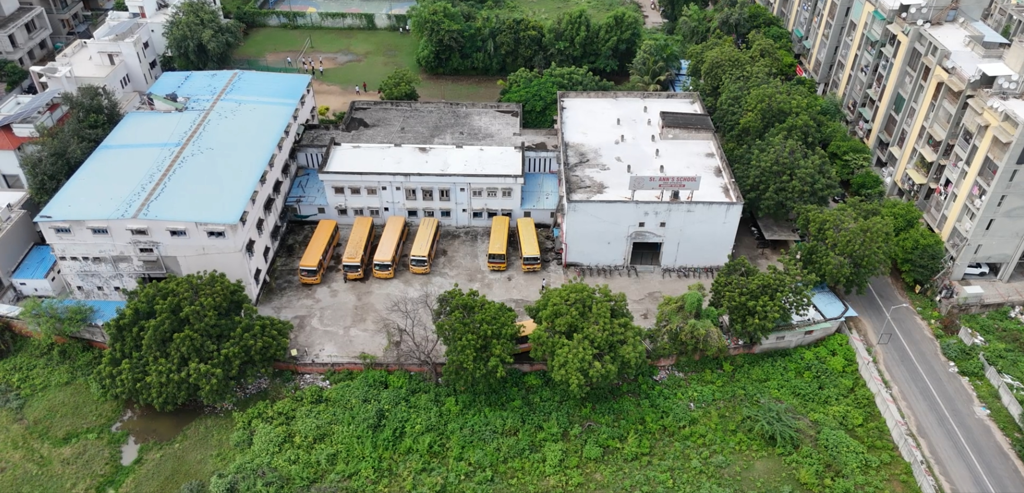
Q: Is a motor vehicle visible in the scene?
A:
Yes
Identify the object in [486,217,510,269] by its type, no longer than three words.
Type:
bus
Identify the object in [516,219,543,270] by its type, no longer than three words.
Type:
bus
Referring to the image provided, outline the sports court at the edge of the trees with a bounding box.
[270,0,473,23]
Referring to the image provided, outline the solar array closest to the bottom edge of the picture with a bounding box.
[0,85,67,140]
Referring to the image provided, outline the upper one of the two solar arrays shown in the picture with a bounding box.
[95,12,149,41]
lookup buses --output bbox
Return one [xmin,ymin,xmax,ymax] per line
[340,218,374,276]
[486,217,510,269]
[516,219,543,270]
[408,219,439,271]
[372,217,406,274]
[297,221,338,281]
